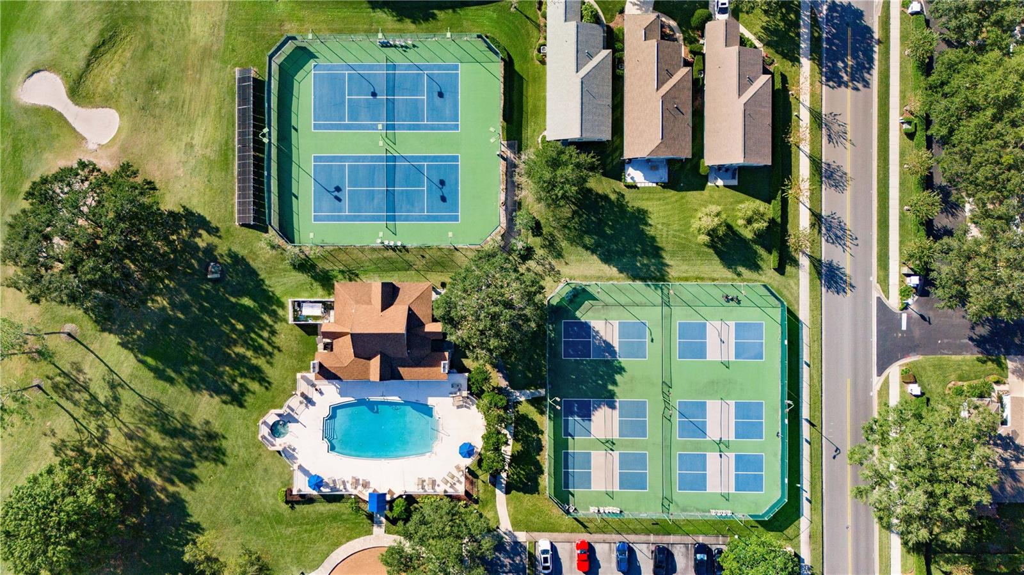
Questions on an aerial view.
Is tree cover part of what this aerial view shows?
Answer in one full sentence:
Yes, tree cover can be seen from above here.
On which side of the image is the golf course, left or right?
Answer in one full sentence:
You can find the golf course on the left side of the picture.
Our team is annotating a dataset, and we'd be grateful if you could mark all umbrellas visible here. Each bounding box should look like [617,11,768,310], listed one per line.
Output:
[459,442,476,459]
[307,474,324,491]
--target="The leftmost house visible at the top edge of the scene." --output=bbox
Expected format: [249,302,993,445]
[546,0,613,141]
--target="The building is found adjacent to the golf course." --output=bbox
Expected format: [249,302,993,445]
[310,281,451,384]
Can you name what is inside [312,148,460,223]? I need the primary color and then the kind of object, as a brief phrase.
blue tennis court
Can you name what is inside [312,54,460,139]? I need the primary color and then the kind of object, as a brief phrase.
blue tennis court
